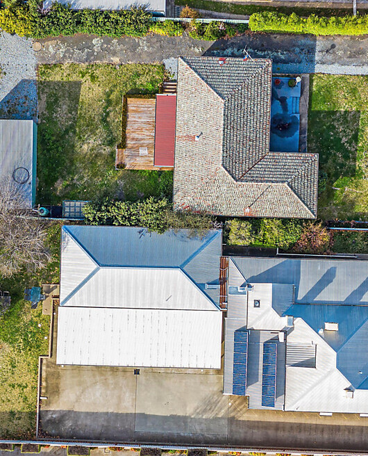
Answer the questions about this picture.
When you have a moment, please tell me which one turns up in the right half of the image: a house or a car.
house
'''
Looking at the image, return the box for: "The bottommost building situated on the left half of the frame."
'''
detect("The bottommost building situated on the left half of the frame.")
[60,225,224,312]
